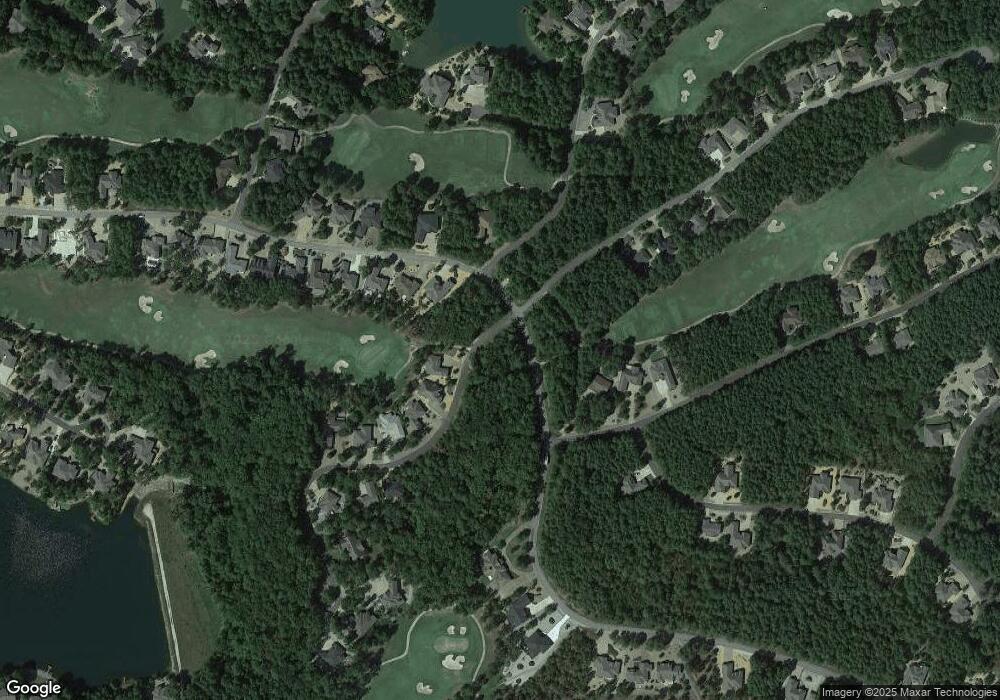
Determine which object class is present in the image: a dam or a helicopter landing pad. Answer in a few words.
dam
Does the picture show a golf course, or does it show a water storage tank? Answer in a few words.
golf course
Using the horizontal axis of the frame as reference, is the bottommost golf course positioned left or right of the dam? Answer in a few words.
to its right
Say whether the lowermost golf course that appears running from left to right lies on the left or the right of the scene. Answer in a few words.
left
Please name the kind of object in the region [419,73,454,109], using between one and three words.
house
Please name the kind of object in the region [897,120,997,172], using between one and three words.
pond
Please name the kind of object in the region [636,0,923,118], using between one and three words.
golf course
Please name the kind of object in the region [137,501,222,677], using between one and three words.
dam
